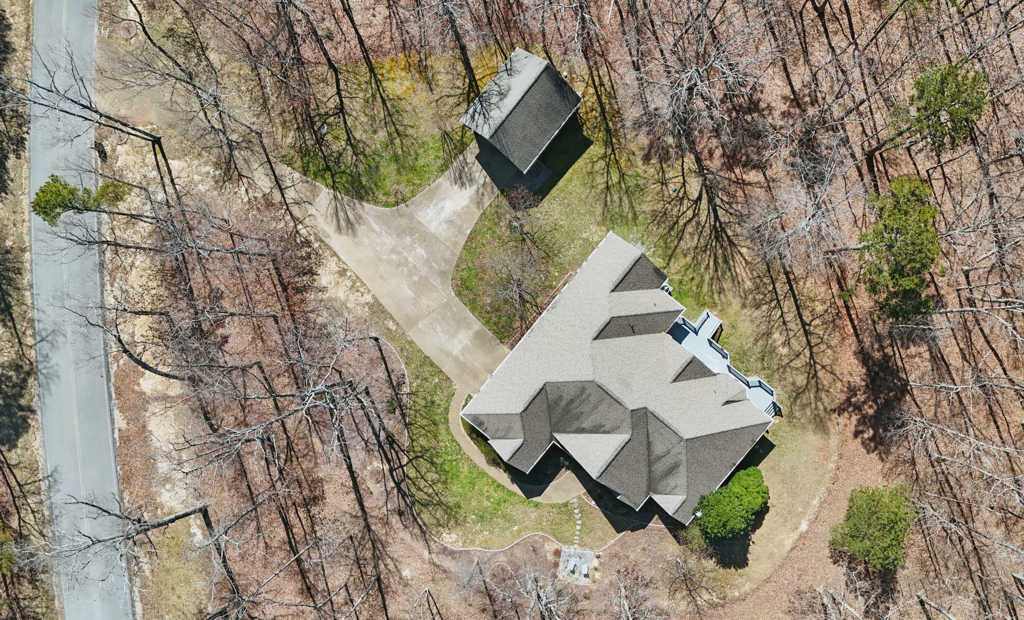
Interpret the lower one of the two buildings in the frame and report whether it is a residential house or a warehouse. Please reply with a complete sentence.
Specifically, the lower one of the two buildings is a residential house.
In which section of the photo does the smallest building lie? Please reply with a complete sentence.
You can find the smallest building in the top area of the picture.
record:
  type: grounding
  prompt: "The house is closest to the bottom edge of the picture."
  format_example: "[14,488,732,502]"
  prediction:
[461,230,773,529]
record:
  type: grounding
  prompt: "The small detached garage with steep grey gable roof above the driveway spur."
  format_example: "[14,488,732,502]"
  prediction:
[459,47,583,173]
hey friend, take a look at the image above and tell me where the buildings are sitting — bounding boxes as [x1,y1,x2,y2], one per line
[459,47,583,173]
[461,230,773,529]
